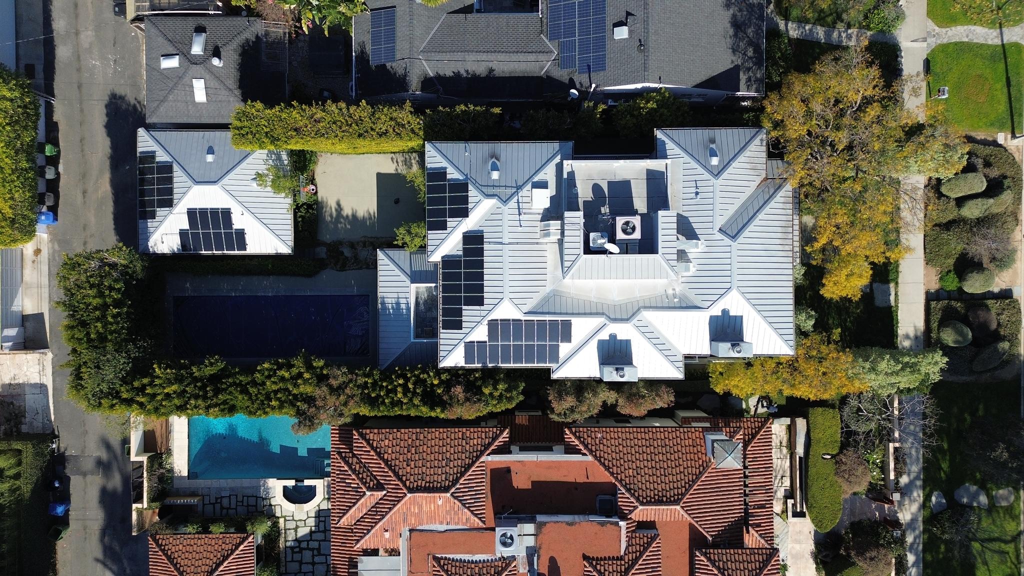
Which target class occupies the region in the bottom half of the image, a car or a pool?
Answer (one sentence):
It is a pool that can be seen in the bottom half of the image.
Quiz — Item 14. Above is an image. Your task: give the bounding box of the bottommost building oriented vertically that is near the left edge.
[0,245,49,357]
